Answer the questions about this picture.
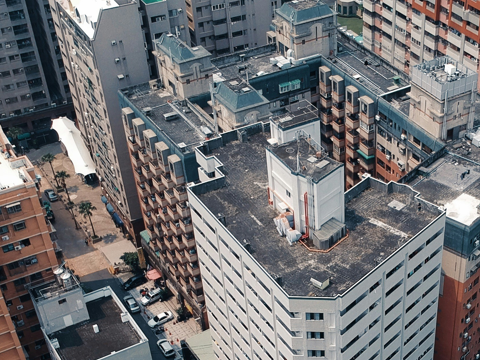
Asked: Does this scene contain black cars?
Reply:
Yes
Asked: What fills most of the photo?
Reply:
buildings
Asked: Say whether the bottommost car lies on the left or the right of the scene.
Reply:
left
